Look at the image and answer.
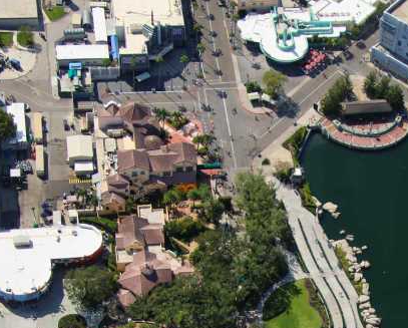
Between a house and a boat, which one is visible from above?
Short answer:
house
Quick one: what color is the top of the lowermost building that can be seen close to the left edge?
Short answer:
white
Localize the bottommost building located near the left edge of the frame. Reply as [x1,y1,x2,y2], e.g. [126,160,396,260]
[0,225,103,304]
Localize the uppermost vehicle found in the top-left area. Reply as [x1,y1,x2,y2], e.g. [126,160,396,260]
[69,0,83,12]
